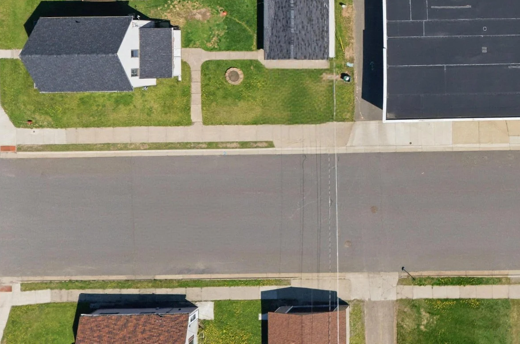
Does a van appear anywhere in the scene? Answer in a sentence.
No, I can see no van in this picture.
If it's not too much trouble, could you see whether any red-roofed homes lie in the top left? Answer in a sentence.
No, in the top left there is no red-roofed home.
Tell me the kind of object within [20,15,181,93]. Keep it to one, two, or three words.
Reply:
house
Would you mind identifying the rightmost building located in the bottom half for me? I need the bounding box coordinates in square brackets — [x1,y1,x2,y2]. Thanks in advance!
[268,306,350,344]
